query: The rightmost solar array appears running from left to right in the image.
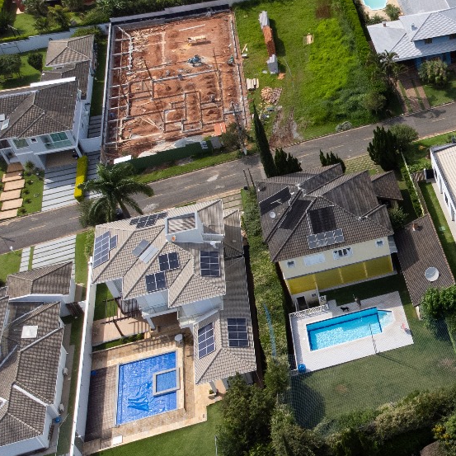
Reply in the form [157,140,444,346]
[308,227,344,249]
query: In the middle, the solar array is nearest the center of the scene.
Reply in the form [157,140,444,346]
[202,250,219,276]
